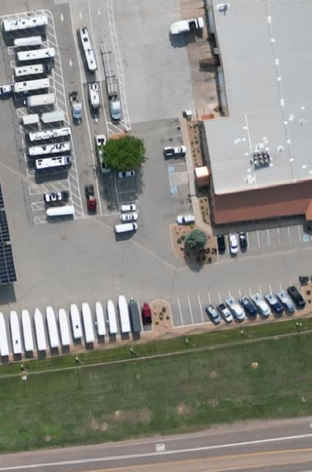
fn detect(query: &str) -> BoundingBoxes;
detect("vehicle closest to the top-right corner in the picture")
[168,16,205,32]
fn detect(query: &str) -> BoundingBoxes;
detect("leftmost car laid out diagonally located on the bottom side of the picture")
[202,303,221,325]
